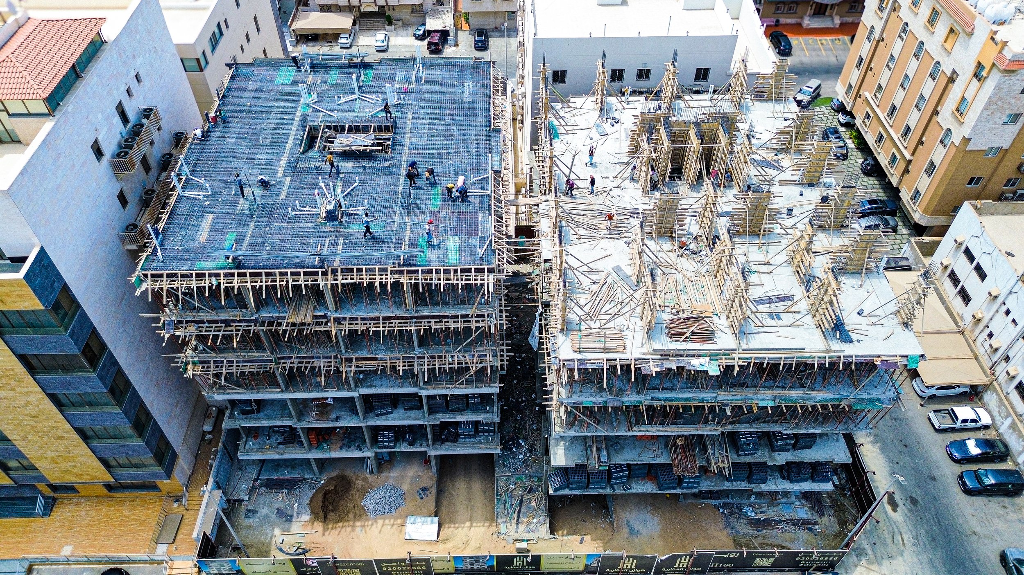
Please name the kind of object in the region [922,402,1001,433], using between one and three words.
car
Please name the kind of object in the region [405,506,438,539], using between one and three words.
shed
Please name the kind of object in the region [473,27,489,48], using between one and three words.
car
